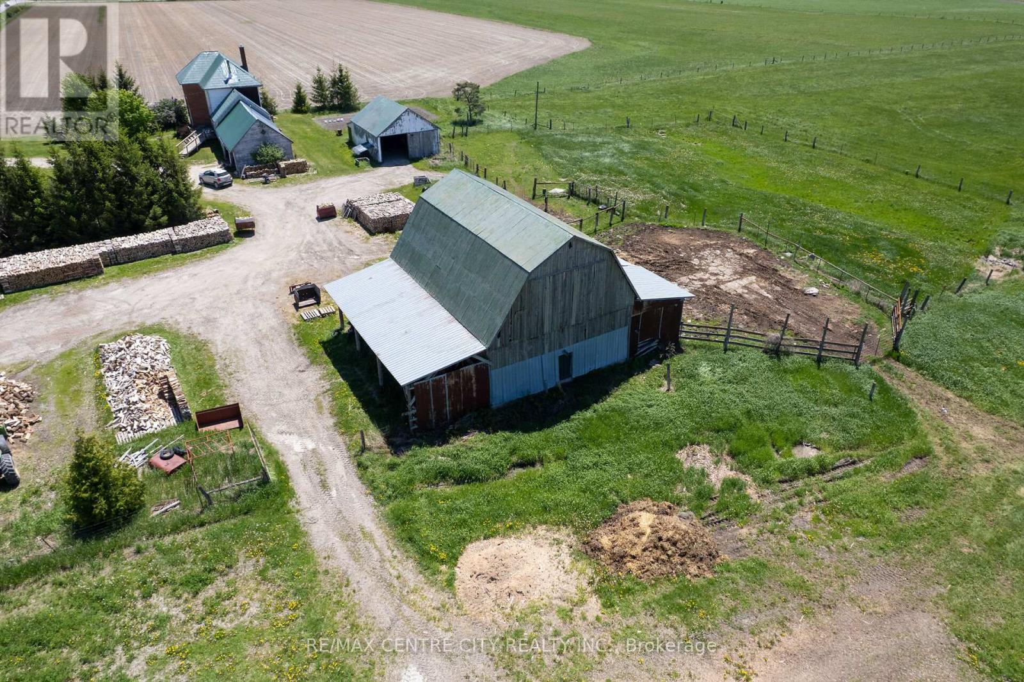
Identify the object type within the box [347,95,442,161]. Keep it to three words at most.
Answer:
shed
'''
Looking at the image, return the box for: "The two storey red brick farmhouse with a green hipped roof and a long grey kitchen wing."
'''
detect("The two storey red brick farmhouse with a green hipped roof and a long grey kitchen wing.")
[171,48,300,171]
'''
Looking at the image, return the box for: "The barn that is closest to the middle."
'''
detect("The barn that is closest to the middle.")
[323,168,696,430]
